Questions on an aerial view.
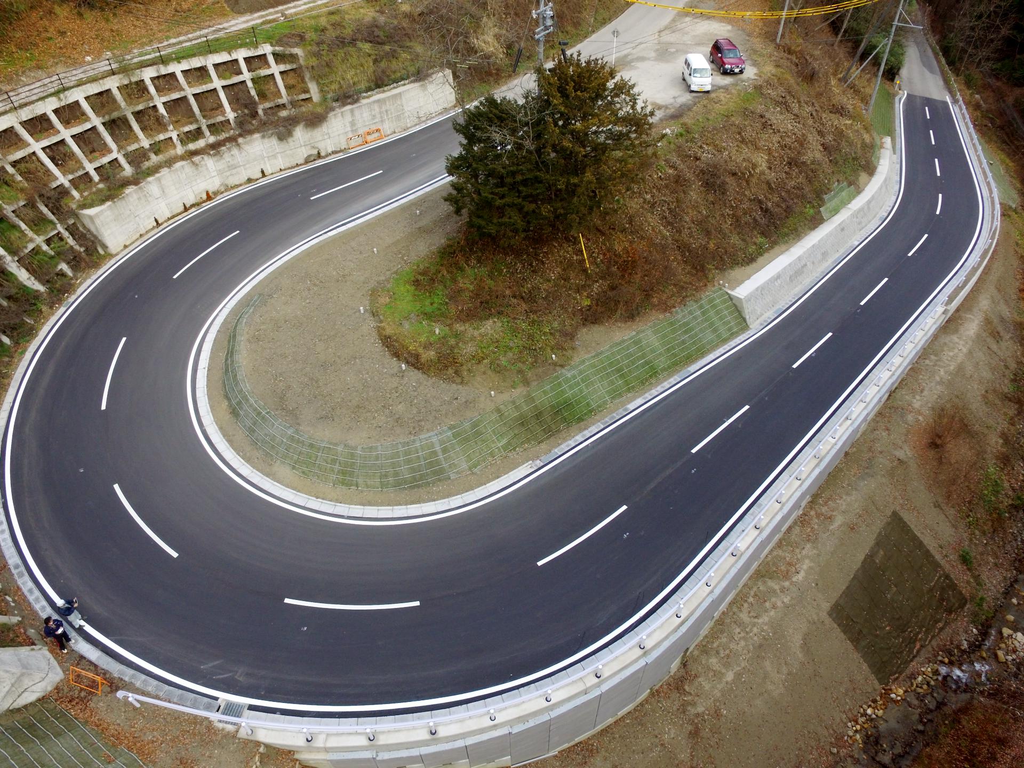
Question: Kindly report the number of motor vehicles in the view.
2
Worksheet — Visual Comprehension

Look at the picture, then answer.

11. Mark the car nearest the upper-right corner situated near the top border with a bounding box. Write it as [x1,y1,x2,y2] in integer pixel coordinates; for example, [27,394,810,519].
[712,29,751,65]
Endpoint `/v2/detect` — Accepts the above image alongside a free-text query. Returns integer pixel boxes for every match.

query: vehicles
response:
[686,46,717,85]
[712,29,751,65]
